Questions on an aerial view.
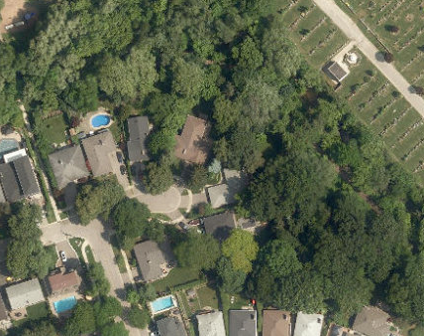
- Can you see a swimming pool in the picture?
Yes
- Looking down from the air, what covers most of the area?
trees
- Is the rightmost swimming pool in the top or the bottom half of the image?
bottom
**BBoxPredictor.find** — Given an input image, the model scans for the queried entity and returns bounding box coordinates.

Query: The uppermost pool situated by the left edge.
[0,138,19,156]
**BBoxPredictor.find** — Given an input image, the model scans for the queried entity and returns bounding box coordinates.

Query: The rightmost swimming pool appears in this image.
[150,294,175,314]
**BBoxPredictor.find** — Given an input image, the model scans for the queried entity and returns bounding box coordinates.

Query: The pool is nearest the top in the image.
[89,114,110,129]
